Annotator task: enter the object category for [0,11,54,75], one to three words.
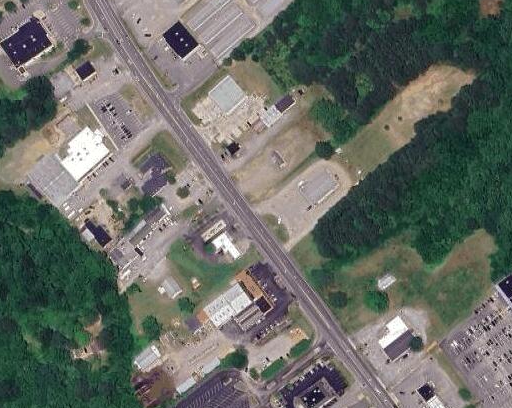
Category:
building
